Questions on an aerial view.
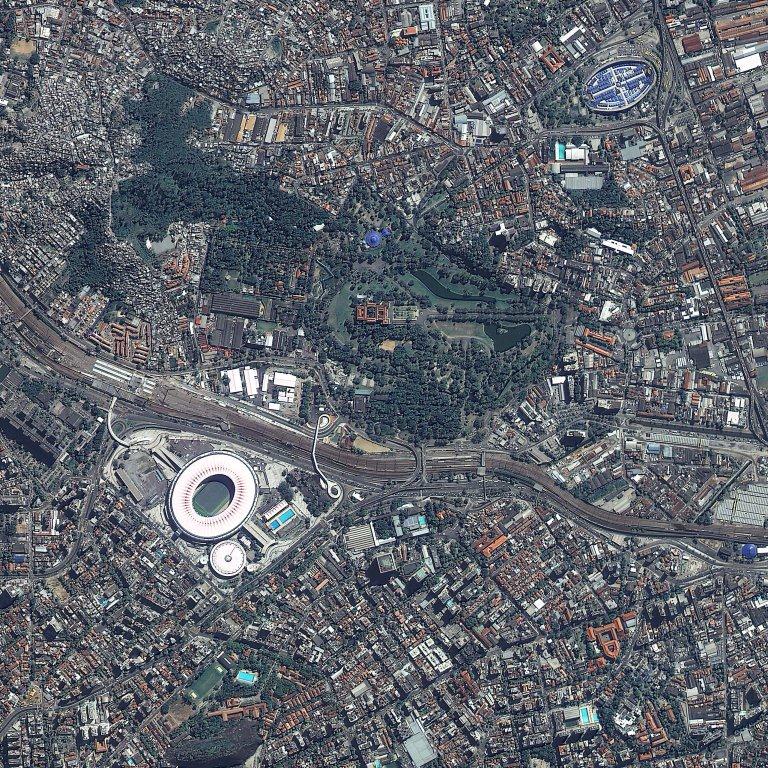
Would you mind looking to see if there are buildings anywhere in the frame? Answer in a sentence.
Yes, this view includes a building.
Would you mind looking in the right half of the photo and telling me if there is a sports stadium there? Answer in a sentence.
No, there is no sports stadium in the right half of the photo.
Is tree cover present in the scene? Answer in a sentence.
Yes, there is tree cover in the image.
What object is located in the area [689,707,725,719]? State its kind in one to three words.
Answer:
building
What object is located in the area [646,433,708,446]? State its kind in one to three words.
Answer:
shed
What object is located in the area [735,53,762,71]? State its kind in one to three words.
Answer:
building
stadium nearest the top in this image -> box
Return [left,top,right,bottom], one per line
[154,443,270,544]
